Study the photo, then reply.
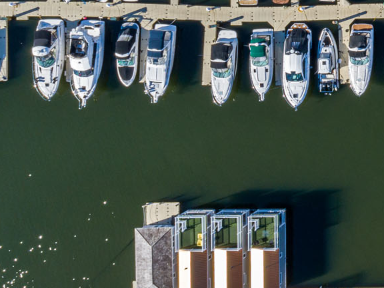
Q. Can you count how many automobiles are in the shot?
0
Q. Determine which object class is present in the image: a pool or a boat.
boat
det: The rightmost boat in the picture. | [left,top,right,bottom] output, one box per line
[347,21,377,96]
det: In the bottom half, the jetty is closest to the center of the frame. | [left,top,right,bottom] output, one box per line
[146,200,181,225]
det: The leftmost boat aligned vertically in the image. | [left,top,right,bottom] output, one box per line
[32,18,68,101]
